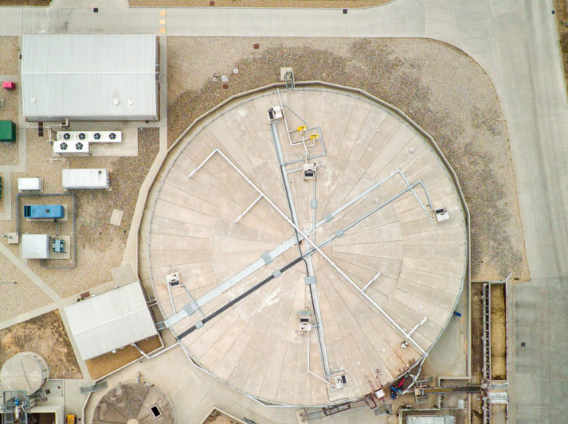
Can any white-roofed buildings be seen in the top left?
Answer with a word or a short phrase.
Yes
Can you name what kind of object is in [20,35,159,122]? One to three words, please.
building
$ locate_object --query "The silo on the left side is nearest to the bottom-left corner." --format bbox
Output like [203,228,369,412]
[0,348,53,401]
